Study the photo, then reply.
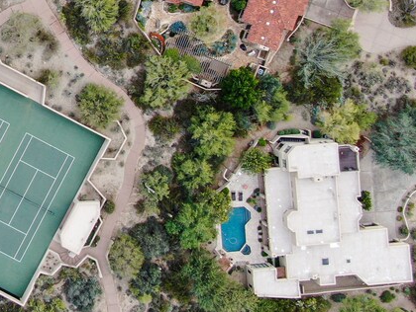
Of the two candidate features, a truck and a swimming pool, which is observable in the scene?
swimming pool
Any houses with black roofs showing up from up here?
No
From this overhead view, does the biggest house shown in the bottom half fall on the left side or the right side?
right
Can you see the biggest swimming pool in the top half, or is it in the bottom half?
bottom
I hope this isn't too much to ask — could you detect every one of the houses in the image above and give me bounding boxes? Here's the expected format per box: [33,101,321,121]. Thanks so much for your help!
[238,136,412,297]
[236,0,309,51]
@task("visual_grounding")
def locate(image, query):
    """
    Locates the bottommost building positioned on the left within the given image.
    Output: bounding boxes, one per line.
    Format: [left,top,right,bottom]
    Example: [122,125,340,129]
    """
[58,198,99,254]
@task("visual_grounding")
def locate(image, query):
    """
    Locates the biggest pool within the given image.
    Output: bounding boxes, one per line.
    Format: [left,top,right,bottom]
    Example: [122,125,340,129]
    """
[219,205,252,253]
